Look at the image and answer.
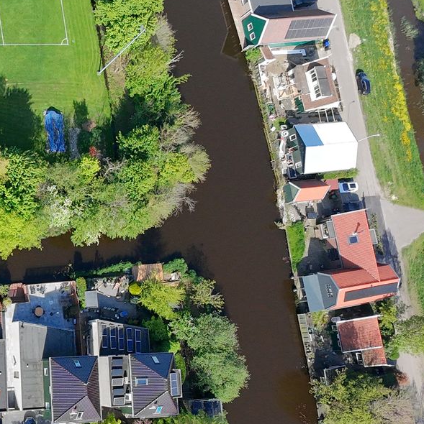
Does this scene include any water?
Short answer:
Yes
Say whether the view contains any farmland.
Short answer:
No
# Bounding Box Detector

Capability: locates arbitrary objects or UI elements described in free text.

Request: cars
[293,0,310,7]
[22,416,36,424]
[338,193,363,206]
[354,71,371,94]
[338,181,359,193]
